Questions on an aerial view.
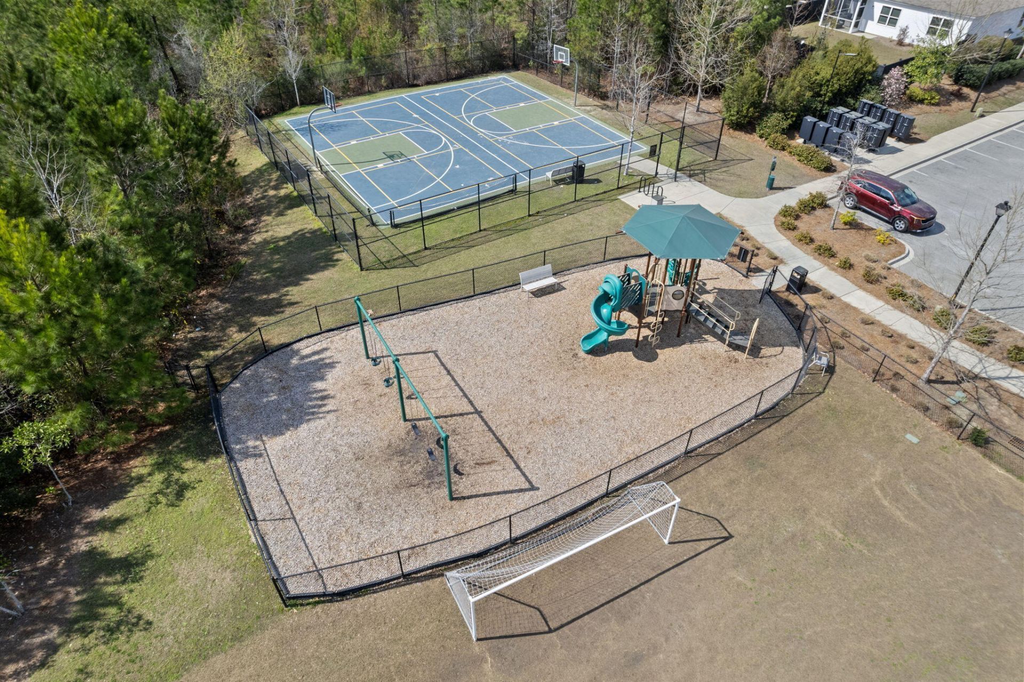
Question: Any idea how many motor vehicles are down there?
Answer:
1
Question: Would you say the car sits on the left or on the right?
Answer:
right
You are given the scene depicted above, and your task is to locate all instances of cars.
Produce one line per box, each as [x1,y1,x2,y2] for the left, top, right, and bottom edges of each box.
[837,166,941,232]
